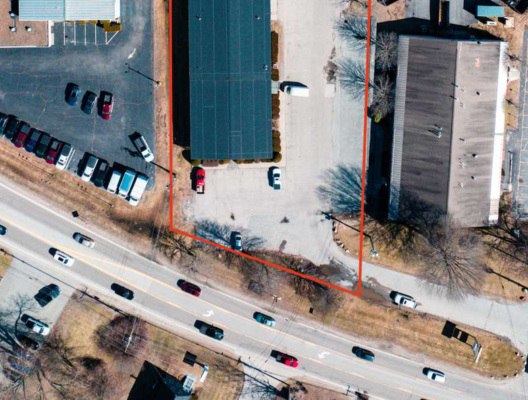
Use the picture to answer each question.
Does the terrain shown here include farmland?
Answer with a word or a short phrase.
No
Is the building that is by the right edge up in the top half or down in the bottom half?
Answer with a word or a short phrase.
top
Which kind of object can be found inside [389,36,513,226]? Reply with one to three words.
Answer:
building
